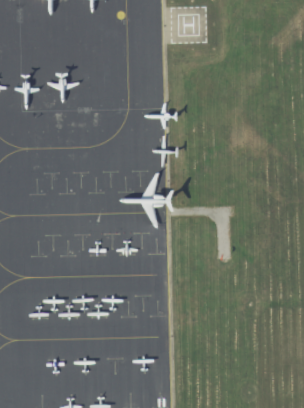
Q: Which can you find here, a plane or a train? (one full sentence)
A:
Looking from above, you can make out a plane.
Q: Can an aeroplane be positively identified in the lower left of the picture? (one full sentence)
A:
Yes, an aeroplane is visible in the lower left of the picture.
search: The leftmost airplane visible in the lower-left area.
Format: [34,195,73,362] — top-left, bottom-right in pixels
[30,304,51,320]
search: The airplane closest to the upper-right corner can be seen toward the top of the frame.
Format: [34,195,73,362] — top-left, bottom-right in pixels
[146,102,176,130]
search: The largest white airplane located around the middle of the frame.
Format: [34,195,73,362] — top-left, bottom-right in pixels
[120,172,174,228]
